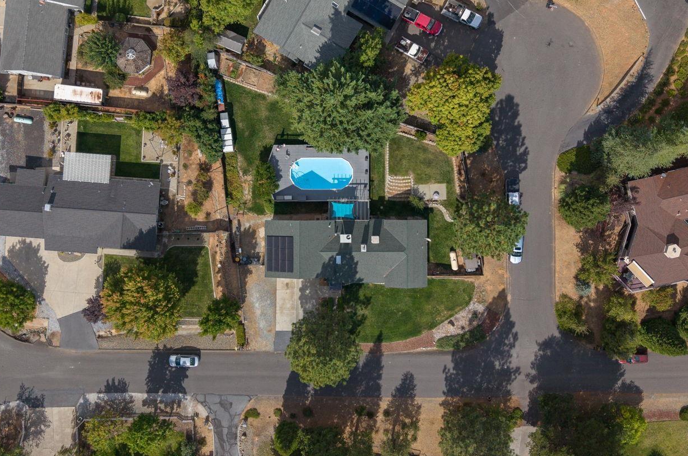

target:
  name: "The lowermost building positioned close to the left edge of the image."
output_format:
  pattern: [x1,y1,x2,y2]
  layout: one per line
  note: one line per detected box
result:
[0,169,161,254]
